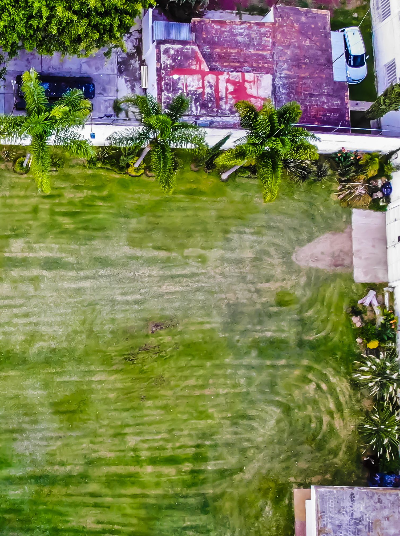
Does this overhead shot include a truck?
No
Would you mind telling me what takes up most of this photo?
grass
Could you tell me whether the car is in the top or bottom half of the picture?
top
